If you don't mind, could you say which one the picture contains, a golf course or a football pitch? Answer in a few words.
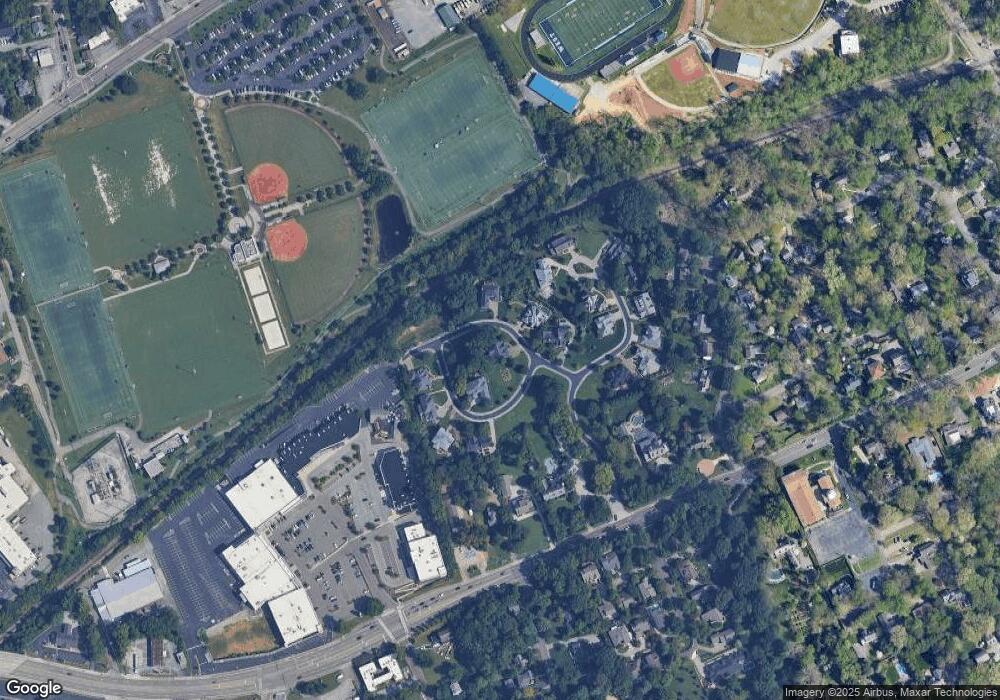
football pitch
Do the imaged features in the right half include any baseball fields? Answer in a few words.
Yes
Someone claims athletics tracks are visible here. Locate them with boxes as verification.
[517,0,685,86]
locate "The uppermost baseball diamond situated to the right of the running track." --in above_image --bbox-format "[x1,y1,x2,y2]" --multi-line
[701,0,826,51]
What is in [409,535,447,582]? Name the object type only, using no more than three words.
building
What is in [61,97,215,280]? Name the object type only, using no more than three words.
sports field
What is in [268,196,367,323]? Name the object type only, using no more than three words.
baseball field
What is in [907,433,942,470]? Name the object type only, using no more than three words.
house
